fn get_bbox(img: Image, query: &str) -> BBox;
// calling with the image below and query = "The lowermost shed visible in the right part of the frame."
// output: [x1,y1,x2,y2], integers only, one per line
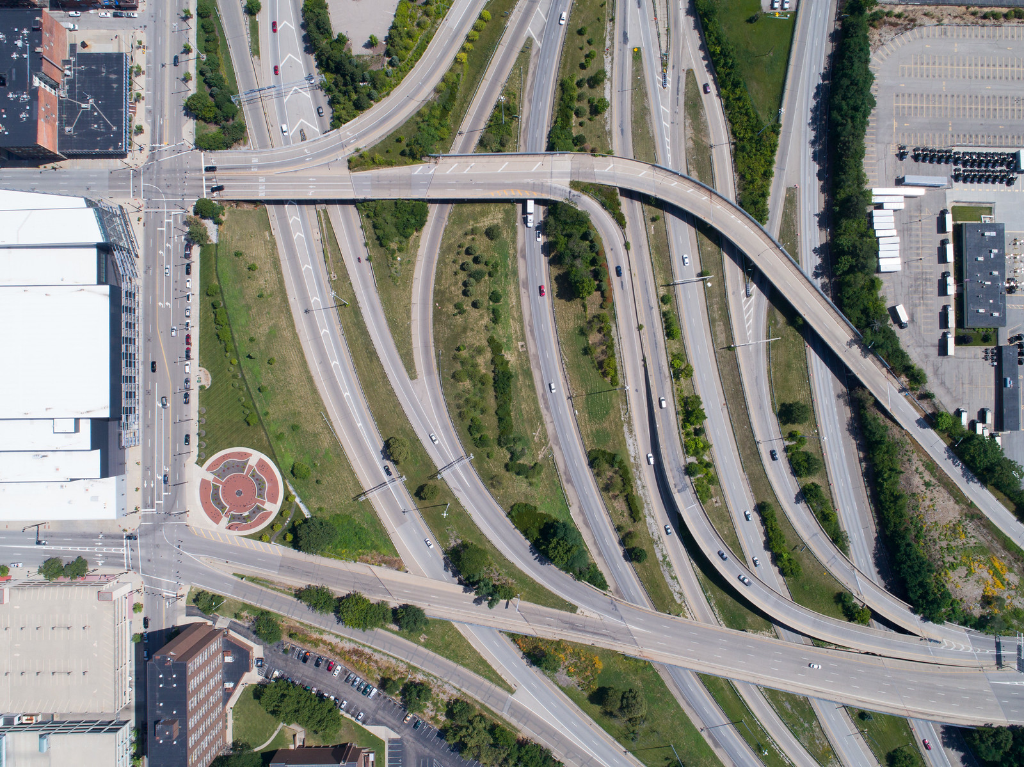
[997,345,1020,430]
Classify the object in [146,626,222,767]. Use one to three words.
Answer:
building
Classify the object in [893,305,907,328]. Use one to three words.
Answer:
vehicle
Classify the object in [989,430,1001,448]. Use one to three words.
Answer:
vehicle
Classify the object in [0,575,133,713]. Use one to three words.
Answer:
building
